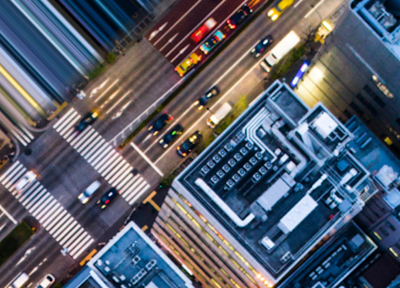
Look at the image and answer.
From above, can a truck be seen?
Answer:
Yes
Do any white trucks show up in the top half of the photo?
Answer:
Yes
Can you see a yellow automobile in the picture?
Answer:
Yes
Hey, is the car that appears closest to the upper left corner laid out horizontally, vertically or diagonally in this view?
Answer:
diagonally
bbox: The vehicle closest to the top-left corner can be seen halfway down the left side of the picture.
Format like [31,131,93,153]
[75,107,99,132]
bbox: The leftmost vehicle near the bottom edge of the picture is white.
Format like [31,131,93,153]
[6,271,31,288]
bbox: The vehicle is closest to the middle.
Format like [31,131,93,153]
[176,131,202,155]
